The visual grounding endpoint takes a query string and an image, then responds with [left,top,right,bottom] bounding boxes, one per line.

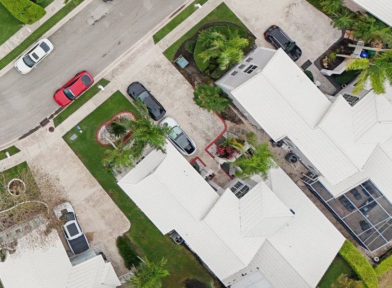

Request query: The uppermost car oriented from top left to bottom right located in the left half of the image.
[127,80,167,121]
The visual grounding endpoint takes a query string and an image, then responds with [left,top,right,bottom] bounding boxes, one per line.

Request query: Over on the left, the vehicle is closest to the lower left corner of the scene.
[56,201,90,257]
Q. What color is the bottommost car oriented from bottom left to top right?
red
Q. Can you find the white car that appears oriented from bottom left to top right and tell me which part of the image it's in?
top left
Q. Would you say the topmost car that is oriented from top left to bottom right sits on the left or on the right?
right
